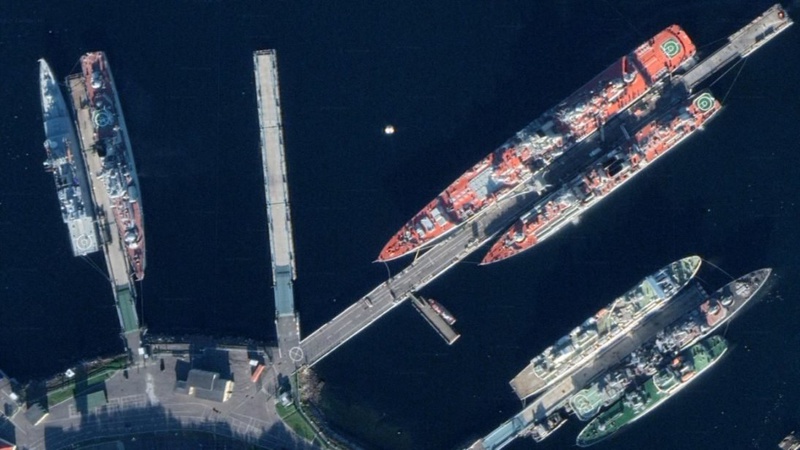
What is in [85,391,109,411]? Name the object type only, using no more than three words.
shed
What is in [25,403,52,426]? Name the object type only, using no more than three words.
building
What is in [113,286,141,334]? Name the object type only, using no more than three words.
bridge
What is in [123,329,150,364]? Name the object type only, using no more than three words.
pier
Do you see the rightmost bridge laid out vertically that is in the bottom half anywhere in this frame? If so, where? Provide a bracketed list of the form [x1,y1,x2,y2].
[274,265,294,316]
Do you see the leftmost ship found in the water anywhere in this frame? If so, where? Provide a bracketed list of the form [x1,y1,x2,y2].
[38,58,101,256]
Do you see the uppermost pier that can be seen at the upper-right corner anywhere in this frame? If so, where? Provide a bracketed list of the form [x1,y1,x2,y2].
[728,4,795,60]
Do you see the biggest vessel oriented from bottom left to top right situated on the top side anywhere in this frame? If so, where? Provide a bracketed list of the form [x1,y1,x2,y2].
[371,27,697,264]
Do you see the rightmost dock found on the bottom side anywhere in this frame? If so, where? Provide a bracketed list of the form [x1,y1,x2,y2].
[512,282,712,435]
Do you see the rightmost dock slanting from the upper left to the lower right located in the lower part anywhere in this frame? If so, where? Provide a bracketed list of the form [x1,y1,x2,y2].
[409,293,462,346]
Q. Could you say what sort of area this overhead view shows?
port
